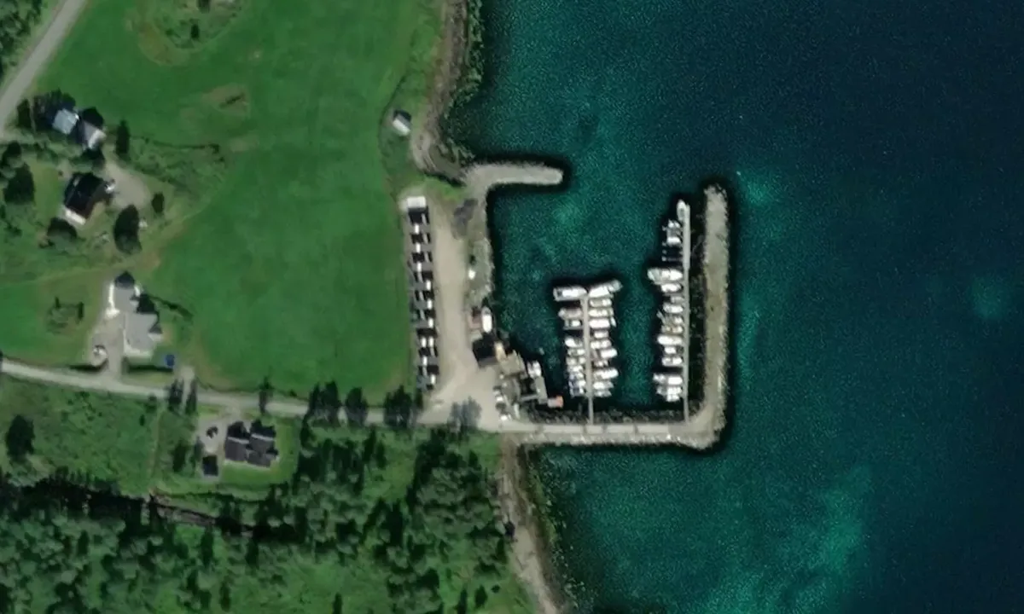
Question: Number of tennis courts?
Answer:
0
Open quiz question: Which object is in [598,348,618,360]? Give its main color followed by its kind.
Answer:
white boat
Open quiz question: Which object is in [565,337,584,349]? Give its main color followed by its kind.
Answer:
white boat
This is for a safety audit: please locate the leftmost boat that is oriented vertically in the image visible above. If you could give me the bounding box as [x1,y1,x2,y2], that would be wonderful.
[481,305,493,333]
